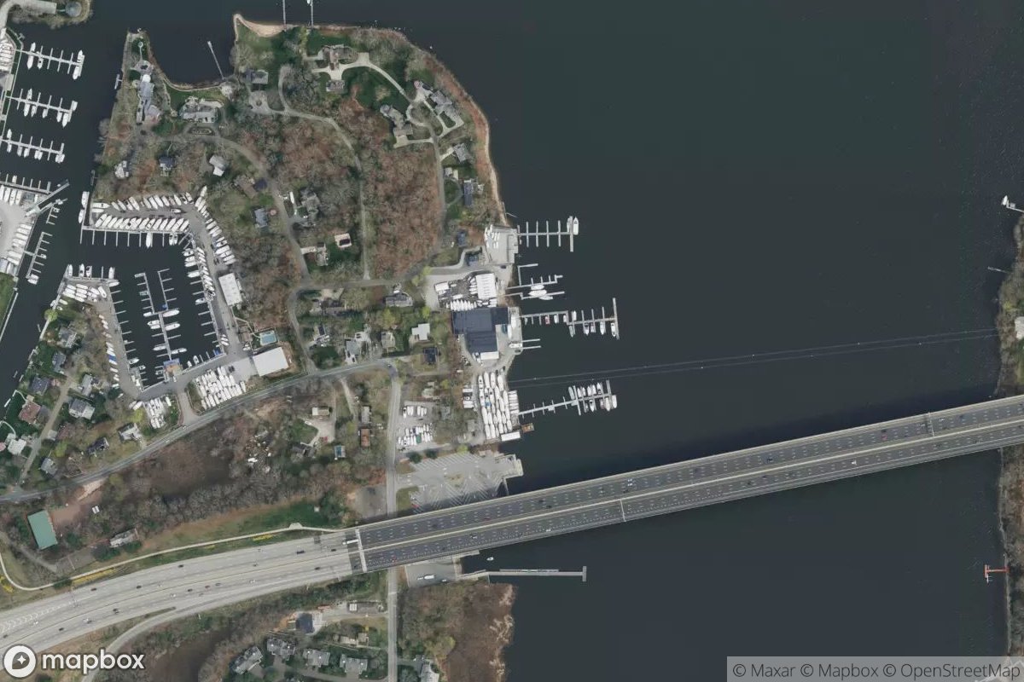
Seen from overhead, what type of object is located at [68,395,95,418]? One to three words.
house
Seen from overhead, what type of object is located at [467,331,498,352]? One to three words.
building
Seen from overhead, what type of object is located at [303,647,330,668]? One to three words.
house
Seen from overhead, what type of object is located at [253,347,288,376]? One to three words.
building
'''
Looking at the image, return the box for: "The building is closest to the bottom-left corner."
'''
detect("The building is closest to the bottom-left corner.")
[28,510,57,550]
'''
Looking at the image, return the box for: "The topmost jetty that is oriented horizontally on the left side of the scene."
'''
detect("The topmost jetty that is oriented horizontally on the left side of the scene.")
[16,45,85,76]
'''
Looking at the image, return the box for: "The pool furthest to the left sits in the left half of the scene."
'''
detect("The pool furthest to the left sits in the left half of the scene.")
[260,332,277,345]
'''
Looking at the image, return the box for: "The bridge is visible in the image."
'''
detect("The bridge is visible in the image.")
[343,395,1024,576]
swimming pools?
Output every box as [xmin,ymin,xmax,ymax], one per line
[260,332,277,345]
[334,444,344,458]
